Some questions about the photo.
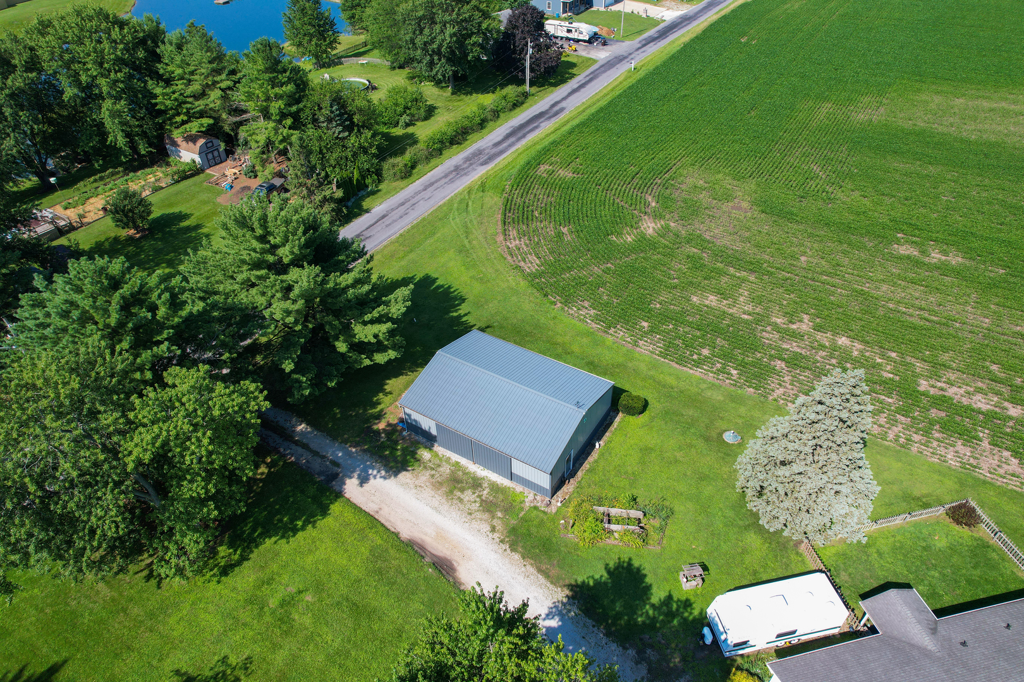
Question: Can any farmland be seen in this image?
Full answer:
Yes, farmland shows up in the scene.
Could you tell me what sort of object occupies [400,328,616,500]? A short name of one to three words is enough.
barn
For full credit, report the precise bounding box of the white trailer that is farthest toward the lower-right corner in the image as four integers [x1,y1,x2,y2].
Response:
[695,570,850,655]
